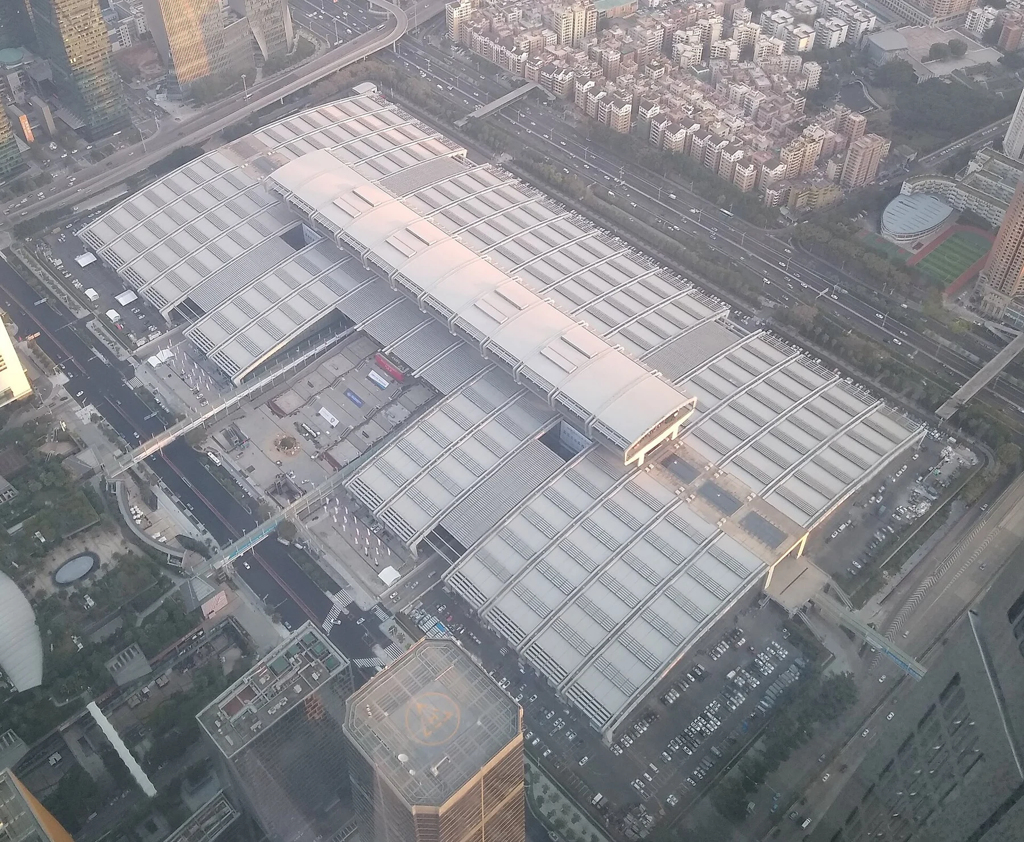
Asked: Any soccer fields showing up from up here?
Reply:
Yes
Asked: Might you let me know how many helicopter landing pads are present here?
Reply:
one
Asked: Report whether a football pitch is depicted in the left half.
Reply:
No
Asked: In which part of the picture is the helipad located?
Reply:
bottom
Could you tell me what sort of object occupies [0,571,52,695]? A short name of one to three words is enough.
building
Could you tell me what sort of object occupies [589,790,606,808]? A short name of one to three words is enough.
vehicle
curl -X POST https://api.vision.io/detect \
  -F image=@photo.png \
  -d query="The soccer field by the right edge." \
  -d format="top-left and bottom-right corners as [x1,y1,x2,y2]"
[915,228,999,285]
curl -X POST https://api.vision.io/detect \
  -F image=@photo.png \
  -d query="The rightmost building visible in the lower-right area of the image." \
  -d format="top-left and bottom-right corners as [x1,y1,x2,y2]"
[829,570,1024,842]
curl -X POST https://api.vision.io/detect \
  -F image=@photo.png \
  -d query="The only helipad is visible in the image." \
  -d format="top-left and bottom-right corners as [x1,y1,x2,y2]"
[390,680,471,759]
